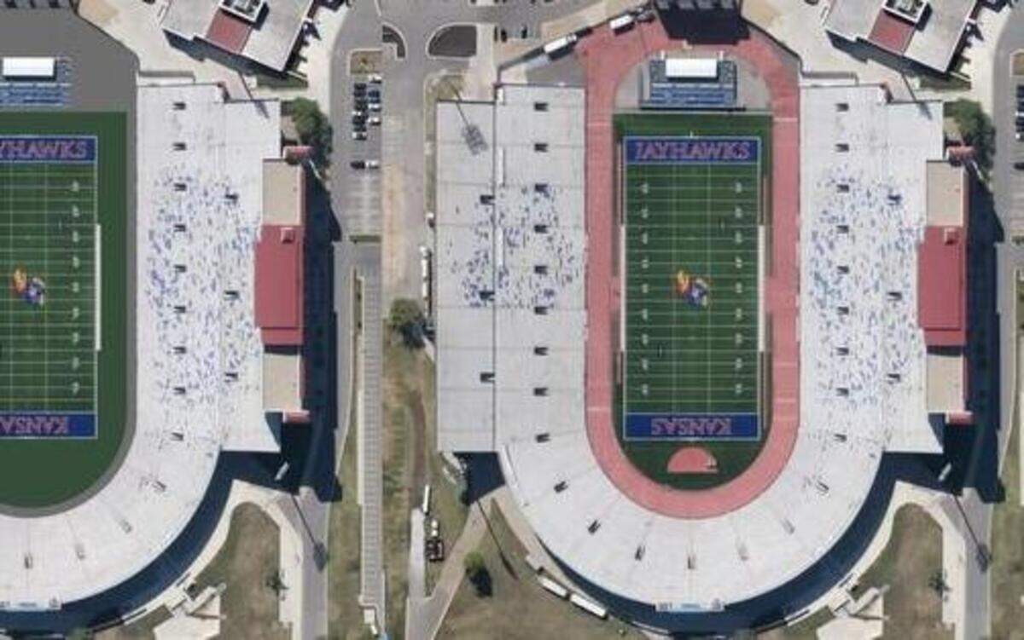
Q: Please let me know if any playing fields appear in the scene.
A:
Yes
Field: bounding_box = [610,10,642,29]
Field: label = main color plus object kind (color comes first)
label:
white vehicle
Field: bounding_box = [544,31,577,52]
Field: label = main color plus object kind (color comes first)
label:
white truck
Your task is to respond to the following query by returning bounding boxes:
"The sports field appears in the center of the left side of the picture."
[0,135,97,440]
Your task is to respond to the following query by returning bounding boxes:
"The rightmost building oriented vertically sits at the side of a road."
[921,144,979,424]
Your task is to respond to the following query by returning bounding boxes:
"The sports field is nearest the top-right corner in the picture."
[624,136,760,442]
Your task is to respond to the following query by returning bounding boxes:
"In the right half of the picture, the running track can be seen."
[575,4,800,518]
